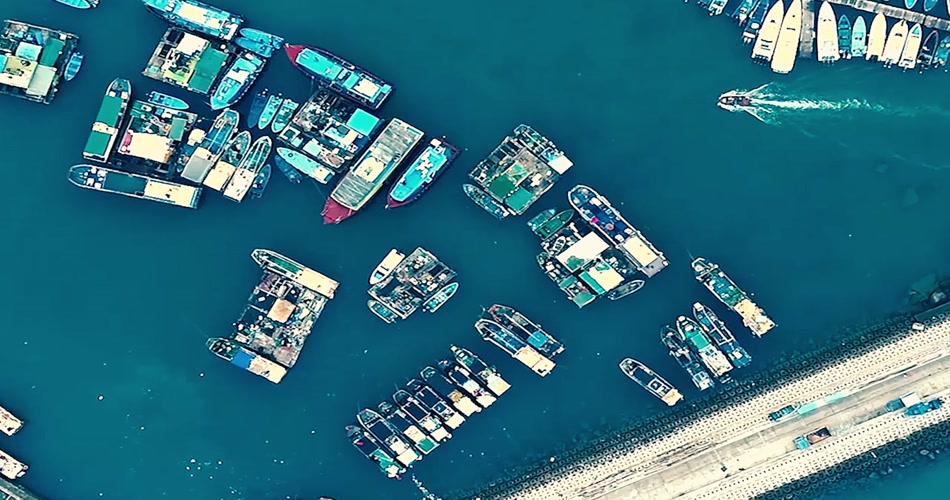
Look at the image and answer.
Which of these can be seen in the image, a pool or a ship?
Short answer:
ship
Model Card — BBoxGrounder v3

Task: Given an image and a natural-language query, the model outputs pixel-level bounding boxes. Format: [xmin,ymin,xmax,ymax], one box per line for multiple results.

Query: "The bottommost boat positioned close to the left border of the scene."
[0,450,29,482]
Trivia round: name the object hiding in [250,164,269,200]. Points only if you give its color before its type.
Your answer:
blue boat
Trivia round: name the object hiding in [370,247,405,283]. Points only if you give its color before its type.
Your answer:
white boat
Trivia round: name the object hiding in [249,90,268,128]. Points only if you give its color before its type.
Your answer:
blue boat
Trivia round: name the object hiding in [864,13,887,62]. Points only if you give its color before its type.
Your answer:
white boat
